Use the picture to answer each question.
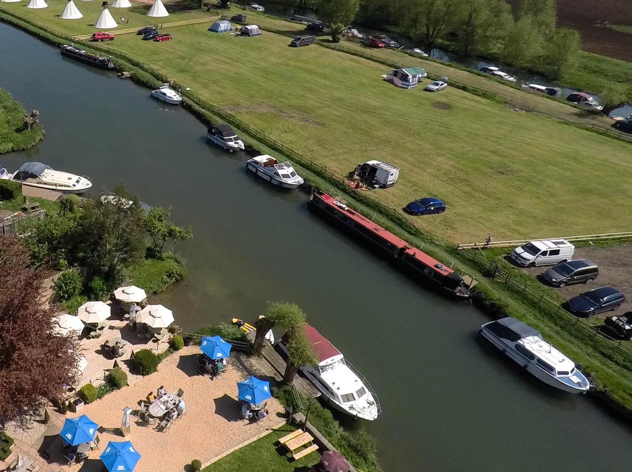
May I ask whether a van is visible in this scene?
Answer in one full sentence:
Yes, there's a van down there.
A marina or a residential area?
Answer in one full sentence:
The picture captures a marina.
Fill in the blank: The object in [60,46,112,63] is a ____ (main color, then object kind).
black boat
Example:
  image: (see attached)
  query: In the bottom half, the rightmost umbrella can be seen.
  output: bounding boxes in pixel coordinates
[312,448,353,472]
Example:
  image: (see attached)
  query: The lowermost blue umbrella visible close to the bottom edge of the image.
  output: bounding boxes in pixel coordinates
[98,441,142,472]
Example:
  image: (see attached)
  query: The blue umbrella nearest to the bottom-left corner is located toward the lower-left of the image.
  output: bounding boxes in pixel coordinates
[59,416,98,450]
